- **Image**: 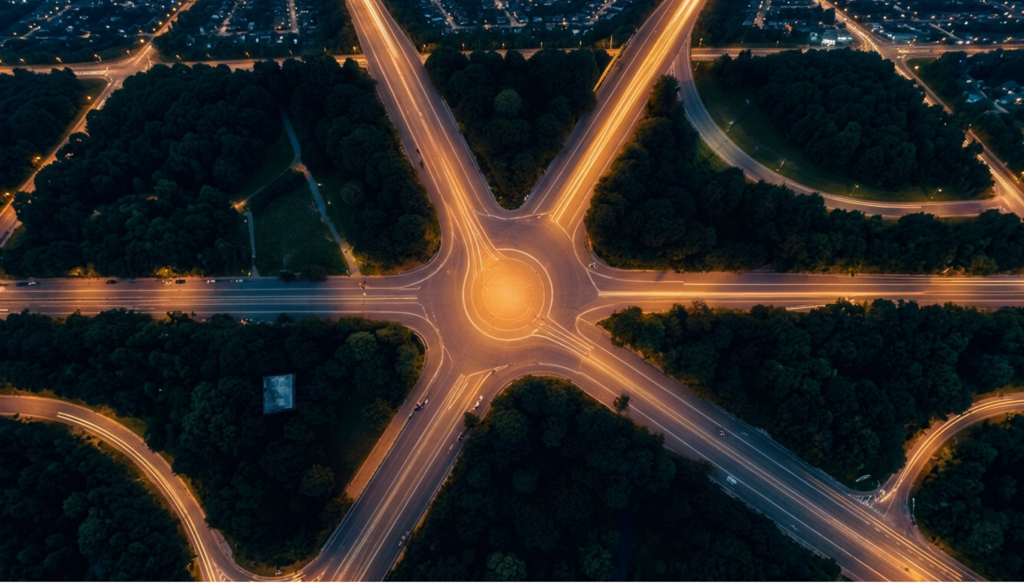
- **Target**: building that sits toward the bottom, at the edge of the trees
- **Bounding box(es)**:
[260,374,296,416]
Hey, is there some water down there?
No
